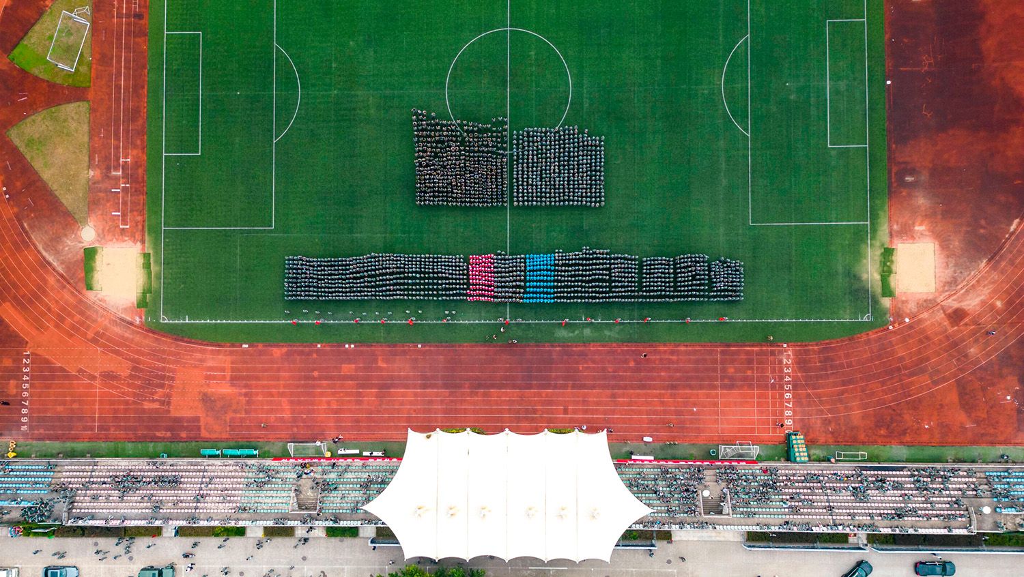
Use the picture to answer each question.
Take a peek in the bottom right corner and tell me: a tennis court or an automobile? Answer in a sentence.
The one visible in the bottom right corner is an automobile.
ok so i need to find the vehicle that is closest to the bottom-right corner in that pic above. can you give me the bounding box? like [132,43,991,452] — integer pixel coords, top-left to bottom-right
[912,558,952,576]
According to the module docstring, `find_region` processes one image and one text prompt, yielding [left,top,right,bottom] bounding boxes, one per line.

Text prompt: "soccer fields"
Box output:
[144,0,890,344]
